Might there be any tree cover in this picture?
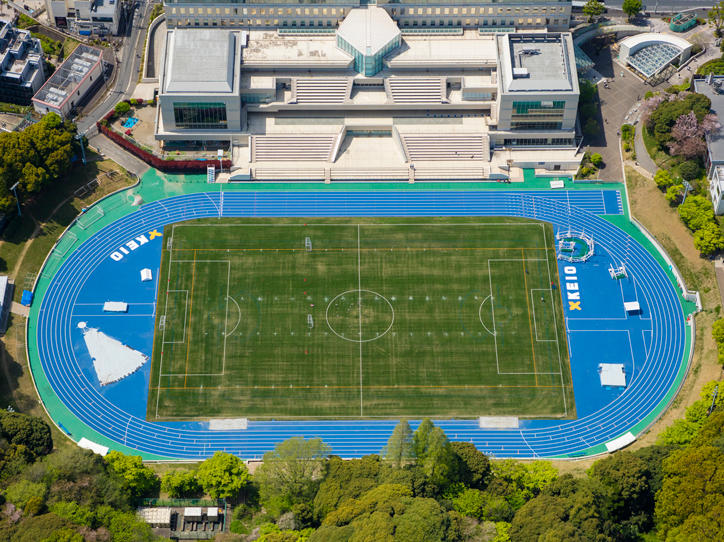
Yes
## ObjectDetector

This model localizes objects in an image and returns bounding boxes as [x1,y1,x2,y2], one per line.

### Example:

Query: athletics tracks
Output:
[28,167,699,459]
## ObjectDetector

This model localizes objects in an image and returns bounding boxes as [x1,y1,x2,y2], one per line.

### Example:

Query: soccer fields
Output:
[146,217,577,421]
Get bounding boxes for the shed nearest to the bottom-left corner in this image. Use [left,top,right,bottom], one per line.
[138,507,171,529]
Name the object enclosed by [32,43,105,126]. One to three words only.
building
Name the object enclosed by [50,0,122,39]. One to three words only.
building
